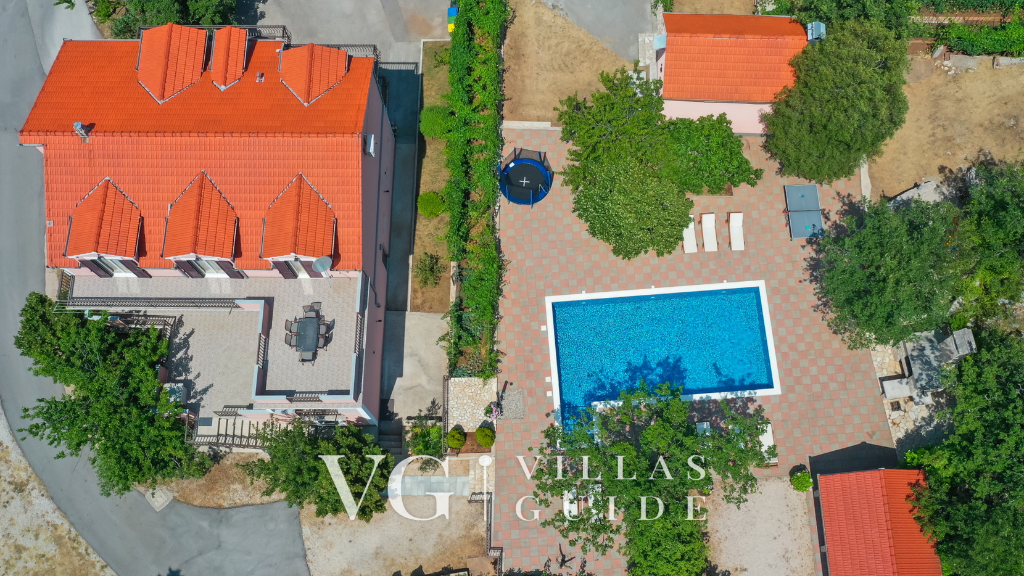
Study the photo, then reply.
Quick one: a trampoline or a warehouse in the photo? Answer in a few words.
trampoline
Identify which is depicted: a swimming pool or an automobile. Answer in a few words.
swimming pool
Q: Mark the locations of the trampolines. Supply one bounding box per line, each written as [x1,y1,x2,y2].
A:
[496,145,551,210]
